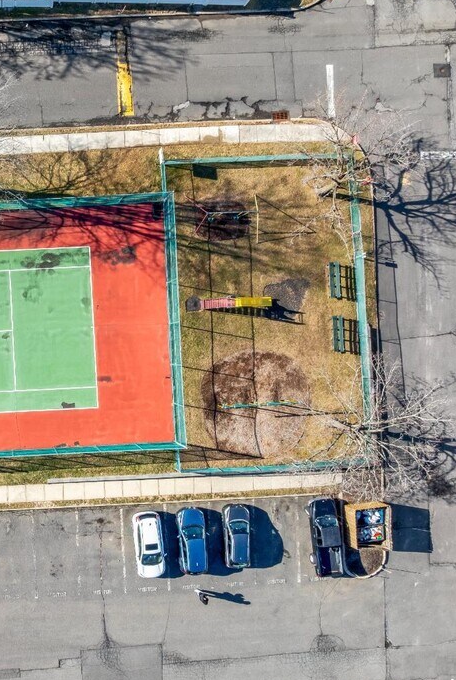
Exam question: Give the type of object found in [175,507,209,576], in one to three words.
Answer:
car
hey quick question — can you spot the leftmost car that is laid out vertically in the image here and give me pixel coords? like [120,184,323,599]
[132,511,167,577]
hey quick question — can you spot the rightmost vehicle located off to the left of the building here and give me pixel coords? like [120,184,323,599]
[307,497,348,578]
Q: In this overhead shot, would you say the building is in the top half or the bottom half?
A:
bottom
